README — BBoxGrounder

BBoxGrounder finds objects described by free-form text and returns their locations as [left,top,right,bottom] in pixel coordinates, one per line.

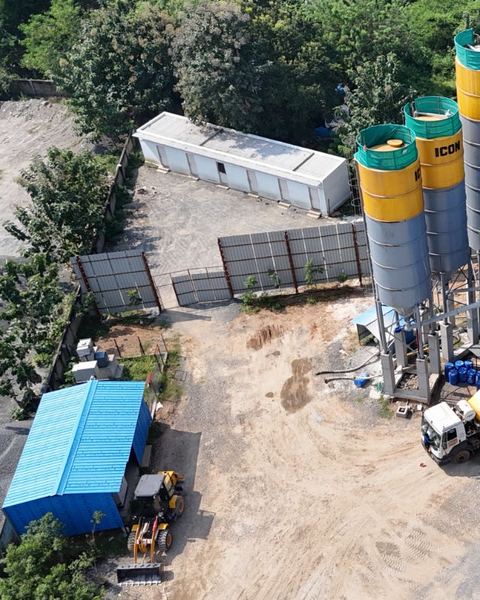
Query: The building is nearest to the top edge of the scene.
[133,108,356,216]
